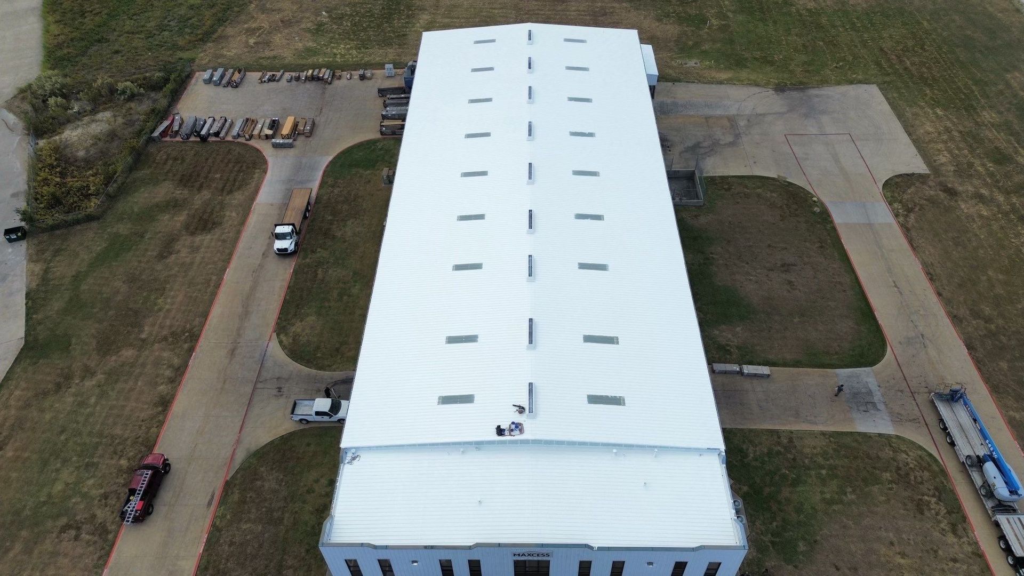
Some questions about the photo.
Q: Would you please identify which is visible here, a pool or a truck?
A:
truck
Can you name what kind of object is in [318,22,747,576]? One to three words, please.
warehouse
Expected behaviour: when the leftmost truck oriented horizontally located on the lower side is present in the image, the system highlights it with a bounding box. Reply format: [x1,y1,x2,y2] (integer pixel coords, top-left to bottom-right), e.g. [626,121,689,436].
[290,397,347,425]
